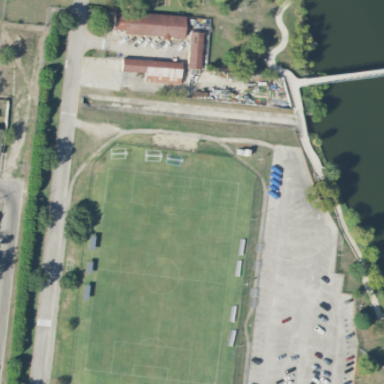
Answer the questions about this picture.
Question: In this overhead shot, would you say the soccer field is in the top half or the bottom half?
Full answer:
The bottom half of the photo is where the soccer field is.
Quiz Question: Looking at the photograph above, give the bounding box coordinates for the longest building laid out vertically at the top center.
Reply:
[190,30,204,69]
